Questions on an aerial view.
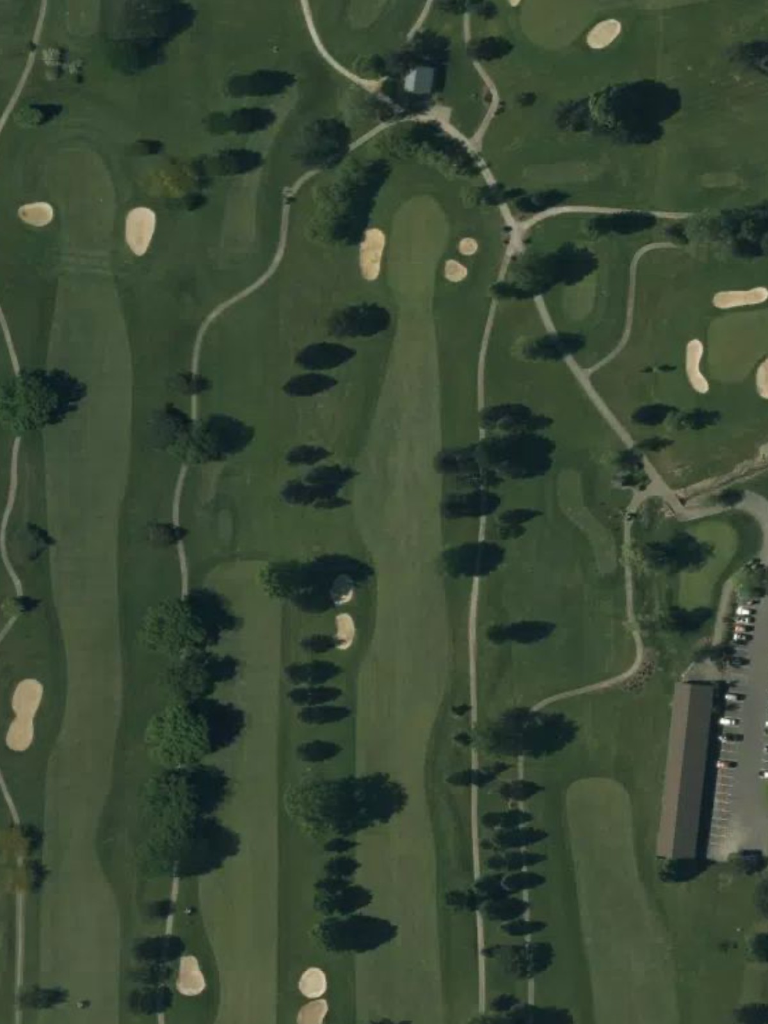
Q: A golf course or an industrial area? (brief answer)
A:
golf course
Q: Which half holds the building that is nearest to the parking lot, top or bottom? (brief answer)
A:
bottom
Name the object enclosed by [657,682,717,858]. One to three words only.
building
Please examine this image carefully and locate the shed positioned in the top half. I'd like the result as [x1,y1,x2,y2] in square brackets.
[404,68,437,93]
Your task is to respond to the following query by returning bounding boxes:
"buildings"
[657,682,717,858]
[404,68,437,93]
